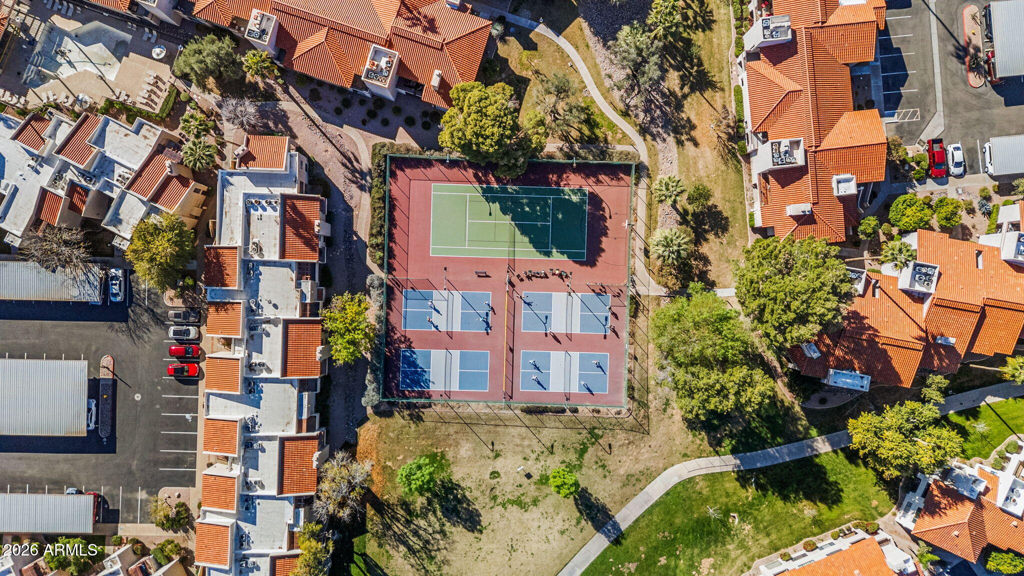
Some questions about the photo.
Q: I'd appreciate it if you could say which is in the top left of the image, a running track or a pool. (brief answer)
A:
pool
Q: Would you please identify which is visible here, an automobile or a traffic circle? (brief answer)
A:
automobile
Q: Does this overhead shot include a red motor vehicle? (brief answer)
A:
Yes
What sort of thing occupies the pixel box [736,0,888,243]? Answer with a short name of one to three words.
building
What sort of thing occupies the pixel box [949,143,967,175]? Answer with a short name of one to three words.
car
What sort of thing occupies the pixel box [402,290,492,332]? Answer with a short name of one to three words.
sports court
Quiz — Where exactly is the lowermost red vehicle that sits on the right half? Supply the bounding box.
[930,137,949,177]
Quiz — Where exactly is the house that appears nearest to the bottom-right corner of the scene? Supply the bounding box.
[888,437,1024,564]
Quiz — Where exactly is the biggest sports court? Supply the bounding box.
[384,157,633,404]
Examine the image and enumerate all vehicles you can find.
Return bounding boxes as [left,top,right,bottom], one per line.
[88,400,96,431]
[165,363,198,378]
[105,269,123,302]
[166,344,200,359]
[166,326,198,341]
[983,4,992,39]
[983,141,992,174]
[166,309,199,324]
[86,492,101,526]
[949,143,967,175]
[91,272,105,303]
[985,49,1001,83]
[64,488,79,494]
[930,137,949,177]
